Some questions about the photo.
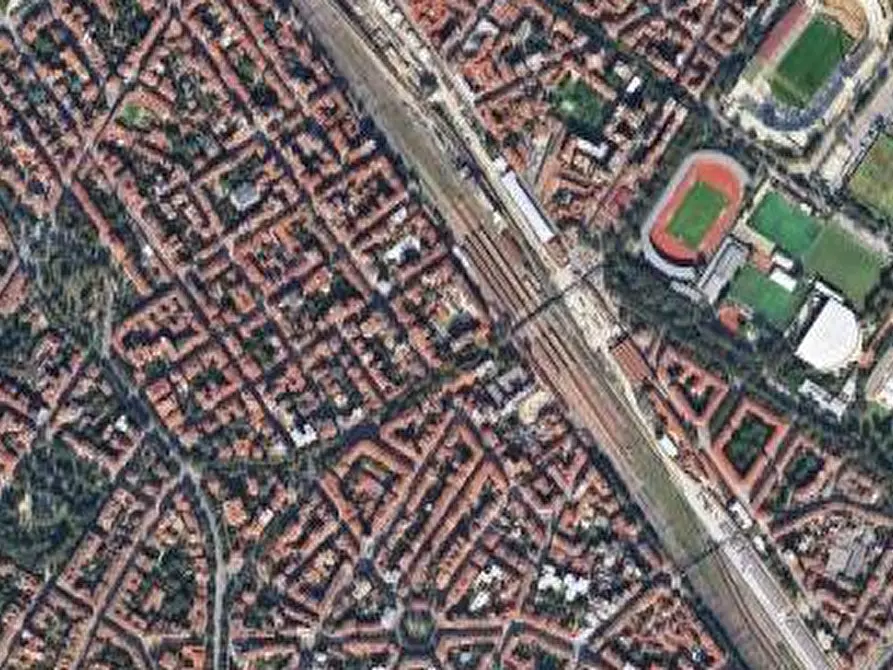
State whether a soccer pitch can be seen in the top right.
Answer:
Yes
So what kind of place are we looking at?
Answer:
residential area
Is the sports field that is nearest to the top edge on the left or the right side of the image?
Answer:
right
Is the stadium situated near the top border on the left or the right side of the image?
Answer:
right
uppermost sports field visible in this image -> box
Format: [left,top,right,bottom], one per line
[774,19,843,99]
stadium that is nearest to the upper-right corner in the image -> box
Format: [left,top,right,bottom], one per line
[749,0,875,132]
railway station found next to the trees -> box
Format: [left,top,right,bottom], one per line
[449,170,576,366]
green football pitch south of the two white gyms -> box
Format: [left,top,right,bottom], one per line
[726,263,798,325]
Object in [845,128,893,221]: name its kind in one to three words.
soccer field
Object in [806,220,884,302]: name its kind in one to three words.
soccer field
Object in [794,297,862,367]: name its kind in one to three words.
building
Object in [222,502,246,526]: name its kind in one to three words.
house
